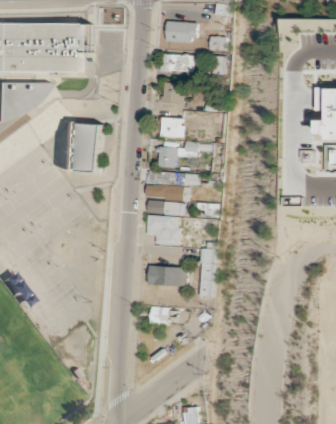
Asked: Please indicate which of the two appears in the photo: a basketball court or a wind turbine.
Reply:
basketball court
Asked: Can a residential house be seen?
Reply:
Yes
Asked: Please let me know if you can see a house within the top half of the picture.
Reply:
Yes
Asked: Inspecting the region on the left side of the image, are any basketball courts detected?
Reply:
Yes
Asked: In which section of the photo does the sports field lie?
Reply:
bottom left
